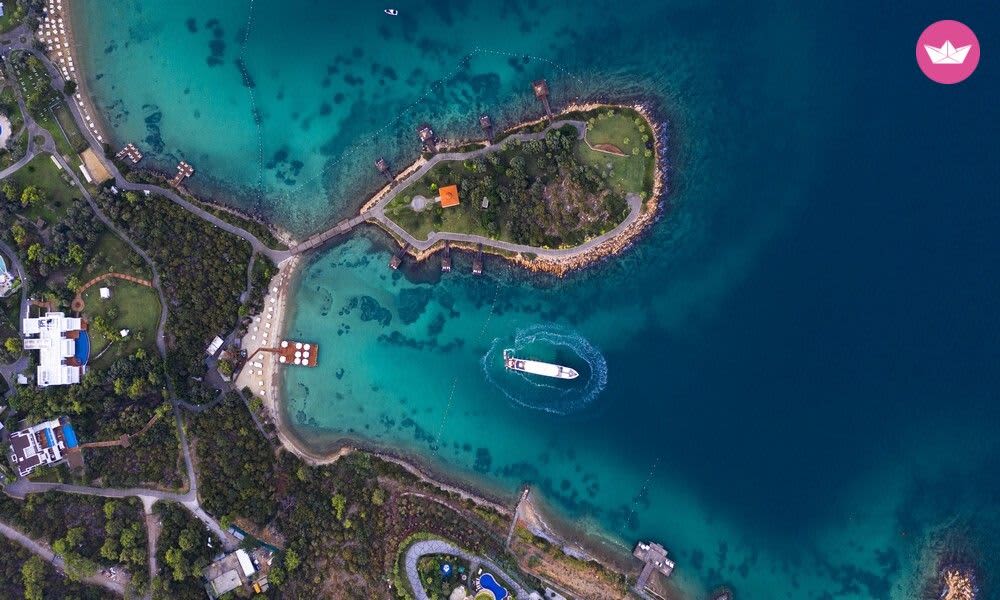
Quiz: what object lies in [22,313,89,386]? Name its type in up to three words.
house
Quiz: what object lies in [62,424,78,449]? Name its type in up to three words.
swimming pool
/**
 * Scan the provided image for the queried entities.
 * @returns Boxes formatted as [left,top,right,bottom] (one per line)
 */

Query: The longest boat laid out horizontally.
[504,349,580,378]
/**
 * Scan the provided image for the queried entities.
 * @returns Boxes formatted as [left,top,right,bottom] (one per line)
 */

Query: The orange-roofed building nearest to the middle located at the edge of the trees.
[436,185,460,208]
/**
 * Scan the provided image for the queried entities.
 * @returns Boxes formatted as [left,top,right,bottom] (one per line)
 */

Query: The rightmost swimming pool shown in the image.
[479,573,506,600]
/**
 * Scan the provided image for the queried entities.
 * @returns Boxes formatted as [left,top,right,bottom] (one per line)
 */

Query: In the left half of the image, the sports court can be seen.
[81,149,109,184]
